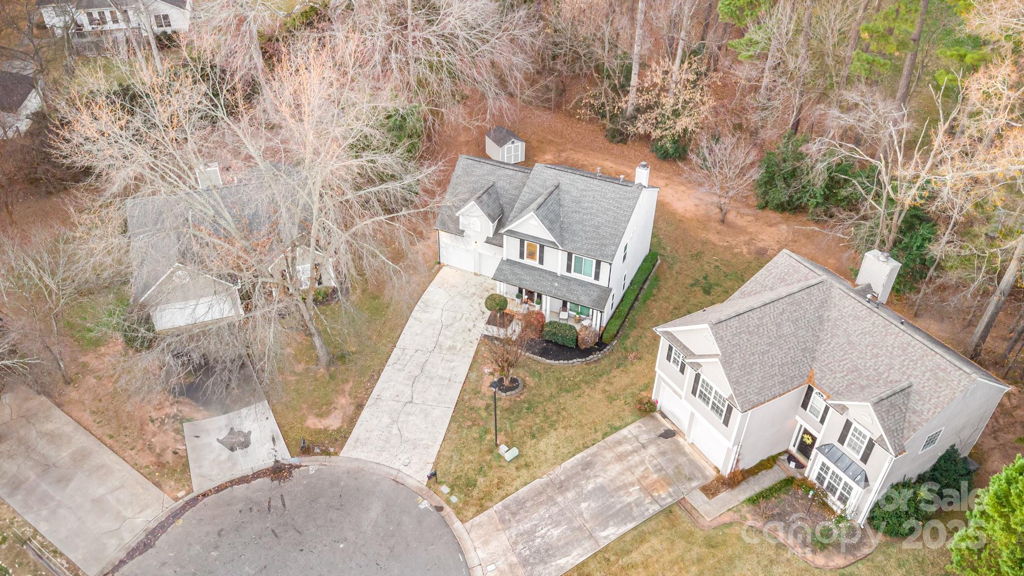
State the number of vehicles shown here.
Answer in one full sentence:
No vehicles are visible.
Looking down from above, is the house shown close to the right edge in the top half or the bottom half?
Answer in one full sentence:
You can find the house shown close to the right edge in the bottom half.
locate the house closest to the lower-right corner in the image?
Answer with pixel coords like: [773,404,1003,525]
[650,246,1016,528]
